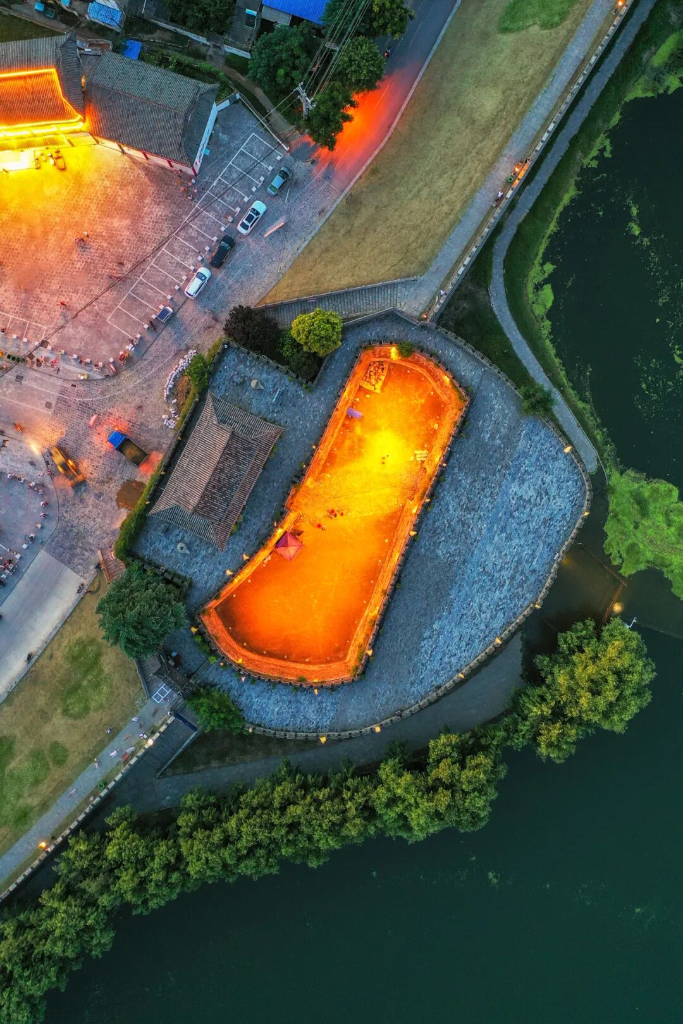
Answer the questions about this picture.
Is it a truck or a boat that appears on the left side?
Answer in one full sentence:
You can see a truck on the left side.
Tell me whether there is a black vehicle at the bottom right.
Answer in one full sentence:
No, no black vehicle is visible at the bottom right.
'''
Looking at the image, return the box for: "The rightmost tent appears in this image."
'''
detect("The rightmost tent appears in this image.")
[275,530,302,561]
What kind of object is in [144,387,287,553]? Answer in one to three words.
building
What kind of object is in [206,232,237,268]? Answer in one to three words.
car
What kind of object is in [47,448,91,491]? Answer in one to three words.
work vehicle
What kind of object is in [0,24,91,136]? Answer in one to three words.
building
